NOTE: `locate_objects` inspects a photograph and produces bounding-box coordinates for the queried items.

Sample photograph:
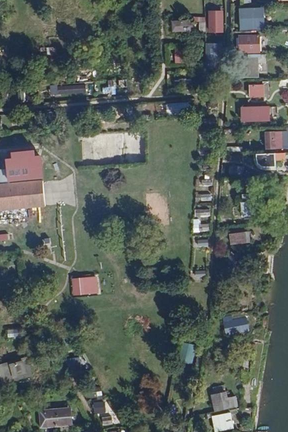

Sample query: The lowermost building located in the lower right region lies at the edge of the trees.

[212,413,234,432]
